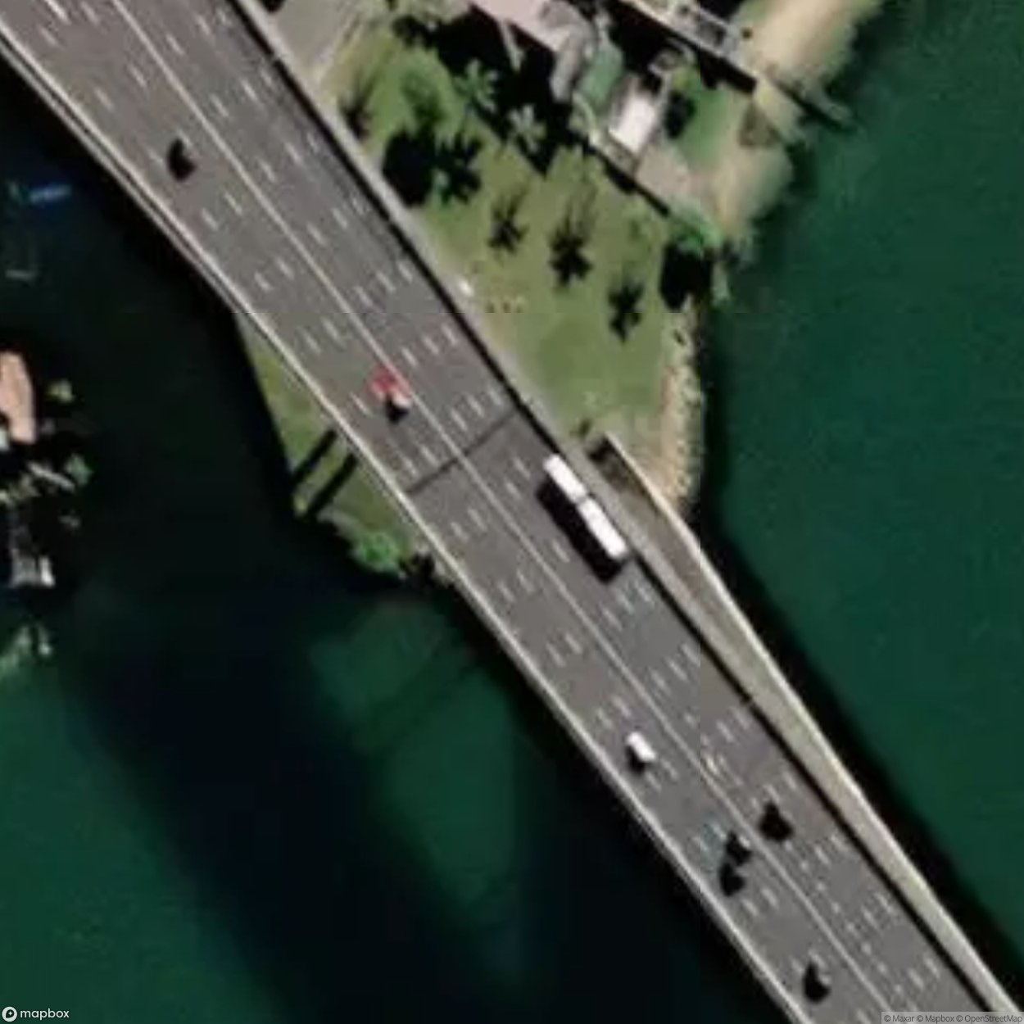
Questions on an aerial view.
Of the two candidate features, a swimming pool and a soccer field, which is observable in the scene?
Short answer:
swimming pool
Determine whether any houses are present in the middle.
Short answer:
No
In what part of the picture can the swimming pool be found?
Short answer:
top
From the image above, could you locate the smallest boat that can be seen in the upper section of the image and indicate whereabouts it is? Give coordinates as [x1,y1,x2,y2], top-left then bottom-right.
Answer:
[6,181,21,205]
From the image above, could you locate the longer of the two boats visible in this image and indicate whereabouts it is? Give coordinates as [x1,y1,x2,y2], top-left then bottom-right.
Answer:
[28,185,70,203]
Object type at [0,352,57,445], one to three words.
house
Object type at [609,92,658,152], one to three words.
building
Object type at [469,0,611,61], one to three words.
house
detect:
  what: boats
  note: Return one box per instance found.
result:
[28,185,70,203]
[6,181,21,205]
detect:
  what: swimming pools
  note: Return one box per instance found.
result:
[584,39,630,110]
